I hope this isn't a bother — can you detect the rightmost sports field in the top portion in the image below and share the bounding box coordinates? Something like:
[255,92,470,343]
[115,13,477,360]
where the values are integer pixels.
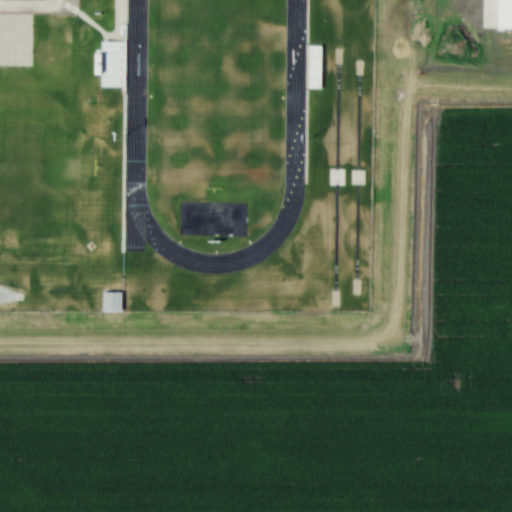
[148,0,286,254]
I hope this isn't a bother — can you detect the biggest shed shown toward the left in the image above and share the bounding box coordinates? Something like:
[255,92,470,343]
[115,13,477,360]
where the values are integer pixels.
[104,292,124,312]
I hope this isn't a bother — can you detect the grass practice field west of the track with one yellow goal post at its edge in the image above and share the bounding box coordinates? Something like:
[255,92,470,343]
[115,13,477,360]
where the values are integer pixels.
[0,120,98,217]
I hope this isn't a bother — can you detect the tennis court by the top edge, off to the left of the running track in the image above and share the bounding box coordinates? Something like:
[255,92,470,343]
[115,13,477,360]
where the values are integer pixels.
[0,14,34,68]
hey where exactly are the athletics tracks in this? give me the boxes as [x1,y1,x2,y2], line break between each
[128,0,306,274]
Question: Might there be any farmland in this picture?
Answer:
Yes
